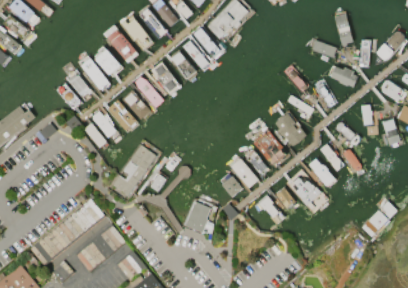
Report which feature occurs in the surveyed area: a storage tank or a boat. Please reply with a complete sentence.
The image shows a boat.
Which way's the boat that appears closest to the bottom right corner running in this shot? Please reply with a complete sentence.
Seen from above, the boat that appears closest to the bottom right corner lies on a diagonal.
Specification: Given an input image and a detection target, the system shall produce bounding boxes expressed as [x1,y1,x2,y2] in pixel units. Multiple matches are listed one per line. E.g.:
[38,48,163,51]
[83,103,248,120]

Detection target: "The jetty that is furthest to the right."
[236,50,408,210]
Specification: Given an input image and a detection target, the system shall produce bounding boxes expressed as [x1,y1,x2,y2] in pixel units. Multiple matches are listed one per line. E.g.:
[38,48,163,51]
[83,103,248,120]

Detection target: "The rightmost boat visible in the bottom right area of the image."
[360,193,401,236]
